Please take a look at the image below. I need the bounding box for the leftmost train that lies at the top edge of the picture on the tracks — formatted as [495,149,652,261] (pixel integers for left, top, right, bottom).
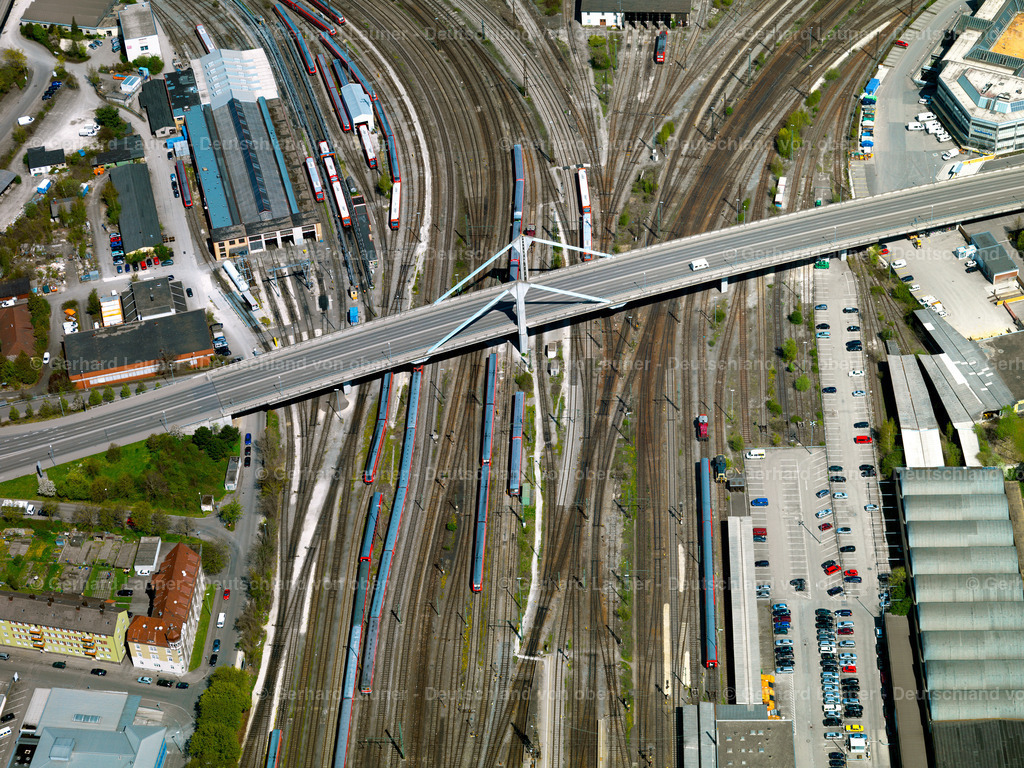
[195,25,215,58]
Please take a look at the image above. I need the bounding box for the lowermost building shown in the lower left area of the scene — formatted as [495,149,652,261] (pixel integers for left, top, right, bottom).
[12,688,170,768]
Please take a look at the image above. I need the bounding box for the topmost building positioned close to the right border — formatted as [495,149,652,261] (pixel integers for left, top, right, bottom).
[911,0,1024,165]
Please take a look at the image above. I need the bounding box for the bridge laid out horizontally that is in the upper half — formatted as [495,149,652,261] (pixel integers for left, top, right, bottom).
[224,163,1024,412]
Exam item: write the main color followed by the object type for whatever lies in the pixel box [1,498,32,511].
white vehicle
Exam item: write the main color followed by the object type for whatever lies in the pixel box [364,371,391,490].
blue train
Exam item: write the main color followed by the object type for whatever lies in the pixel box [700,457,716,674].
blue train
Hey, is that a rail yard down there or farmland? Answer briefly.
rail yard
